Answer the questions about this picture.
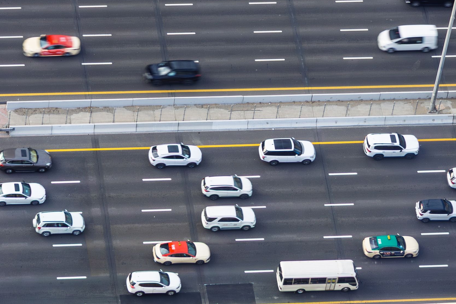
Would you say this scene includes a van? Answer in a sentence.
Yes, looking at the shot, I can spot a van.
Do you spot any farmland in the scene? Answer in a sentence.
No, there is no farmland in the image.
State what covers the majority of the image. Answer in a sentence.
The scene is dominated by paved ground.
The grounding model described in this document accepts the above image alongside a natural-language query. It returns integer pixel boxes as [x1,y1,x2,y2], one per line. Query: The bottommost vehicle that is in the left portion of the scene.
[125,270,182,297]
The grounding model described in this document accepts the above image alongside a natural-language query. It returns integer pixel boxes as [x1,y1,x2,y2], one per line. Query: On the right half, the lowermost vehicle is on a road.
[277,258,360,297]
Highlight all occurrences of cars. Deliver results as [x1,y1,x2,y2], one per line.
[145,60,201,88]
[199,206,257,233]
[200,174,254,200]
[415,198,456,223]
[31,211,86,238]
[258,138,316,166]
[406,0,455,7]
[363,133,420,161]
[362,233,420,259]
[446,167,456,189]
[0,148,54,174]
[24,33,79,58]
[152,239,211,265]
[147,142,203,169]
[125,270,182,297]
[0,180,46,207]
